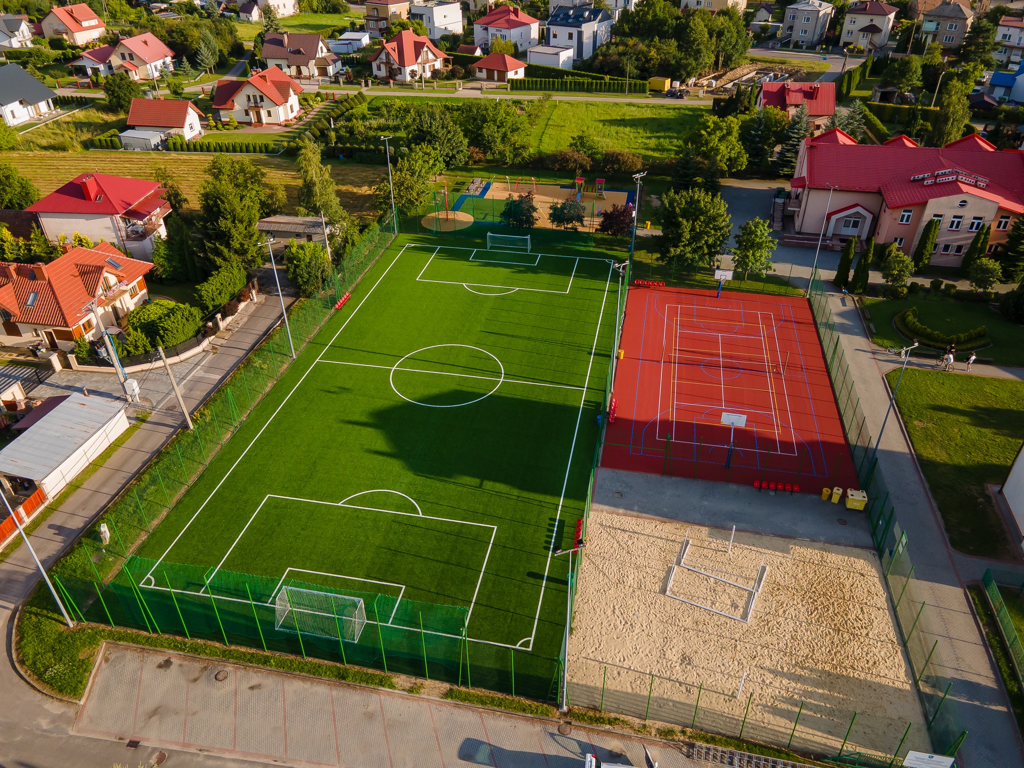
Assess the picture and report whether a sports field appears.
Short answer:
Yes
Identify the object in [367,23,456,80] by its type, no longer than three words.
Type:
house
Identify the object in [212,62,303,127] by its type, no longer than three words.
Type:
house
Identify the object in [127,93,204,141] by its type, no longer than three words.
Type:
shed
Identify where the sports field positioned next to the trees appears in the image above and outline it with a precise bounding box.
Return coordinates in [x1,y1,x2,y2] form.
[76,233,629,702]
